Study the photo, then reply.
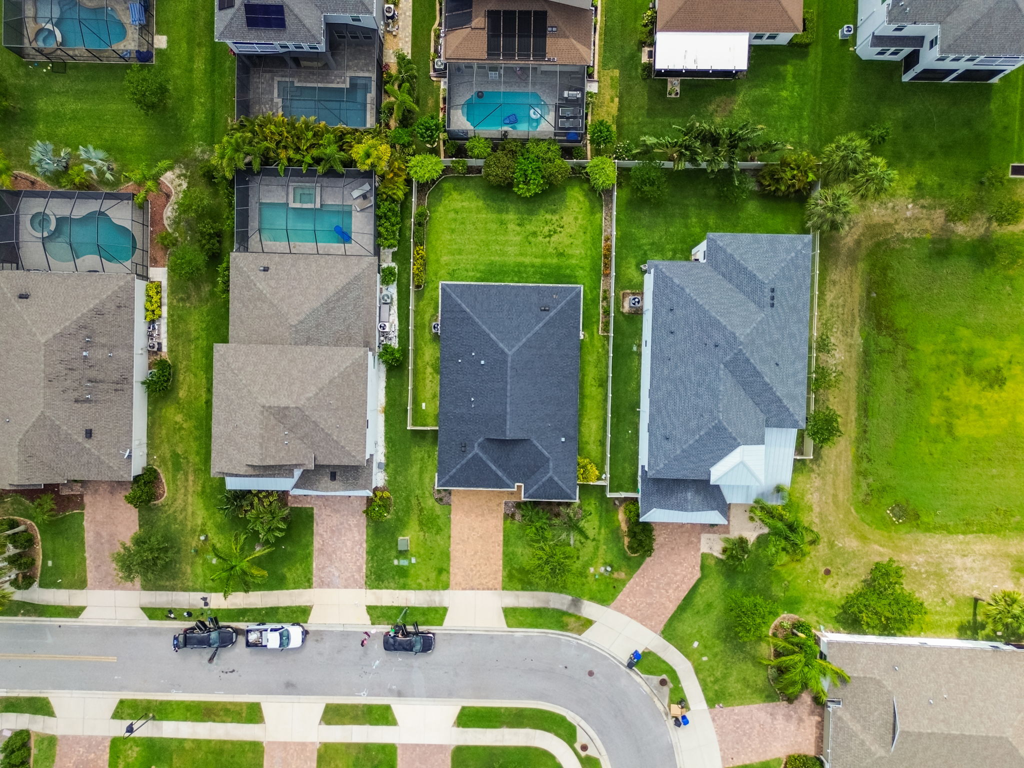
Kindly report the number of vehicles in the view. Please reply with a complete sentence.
The photo contains 3 vehicles.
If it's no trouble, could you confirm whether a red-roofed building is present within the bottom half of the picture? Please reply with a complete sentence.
No, I see no red-roofed building within the bottom half of the picture.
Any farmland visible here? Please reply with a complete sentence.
No, no farmland is visible.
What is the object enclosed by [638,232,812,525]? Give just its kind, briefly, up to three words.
house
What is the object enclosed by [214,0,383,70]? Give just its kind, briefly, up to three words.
house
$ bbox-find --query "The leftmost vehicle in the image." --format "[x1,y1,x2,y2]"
[171,613,238,662]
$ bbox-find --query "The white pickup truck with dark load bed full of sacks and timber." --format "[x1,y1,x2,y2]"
[244,623,309,651]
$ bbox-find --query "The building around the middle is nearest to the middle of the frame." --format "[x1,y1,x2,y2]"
[435,281,584,502]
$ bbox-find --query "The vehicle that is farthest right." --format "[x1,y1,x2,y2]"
[384,620,436,654]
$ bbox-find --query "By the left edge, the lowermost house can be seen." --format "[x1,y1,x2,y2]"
[0,270,148,490]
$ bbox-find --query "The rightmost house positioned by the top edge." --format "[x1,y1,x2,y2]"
[857,0,1024,81]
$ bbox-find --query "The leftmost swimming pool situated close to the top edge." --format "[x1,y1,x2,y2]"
[30,0,127,51]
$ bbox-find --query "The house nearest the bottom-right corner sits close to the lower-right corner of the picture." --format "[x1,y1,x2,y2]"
[818,633,1024,768]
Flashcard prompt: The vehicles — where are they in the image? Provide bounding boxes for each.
[384,620,436,654]
[244,623,309,651]
[171,613,238,662]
